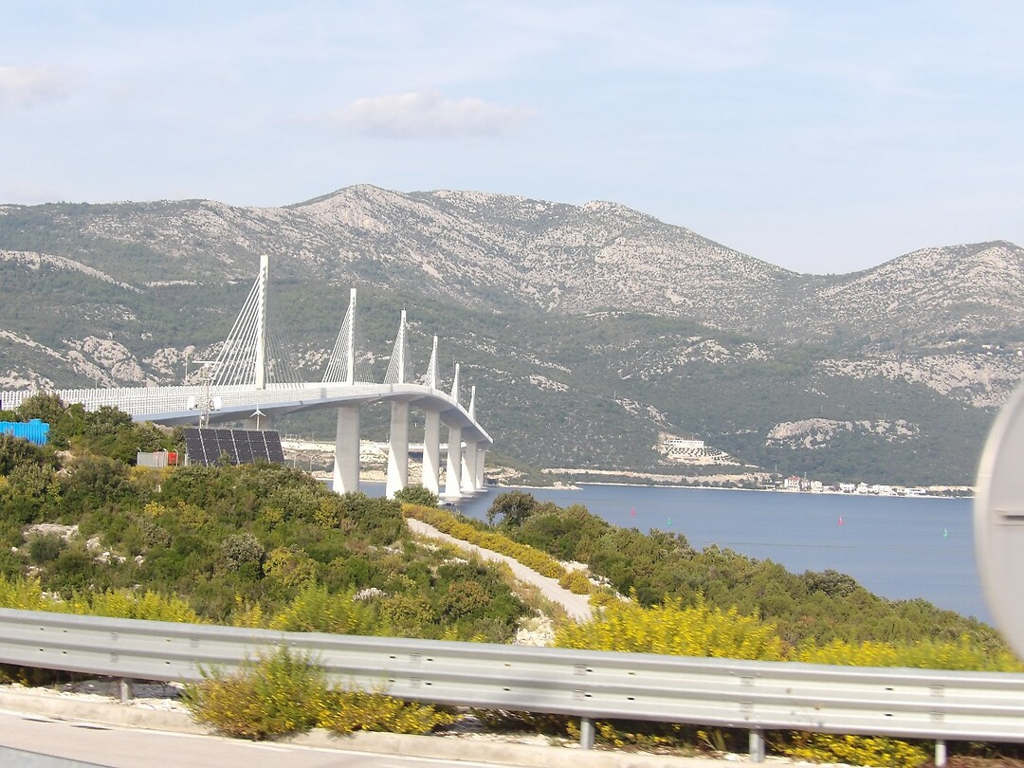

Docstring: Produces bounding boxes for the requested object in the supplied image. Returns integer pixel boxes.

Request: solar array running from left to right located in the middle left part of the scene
[180,426,286,473]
